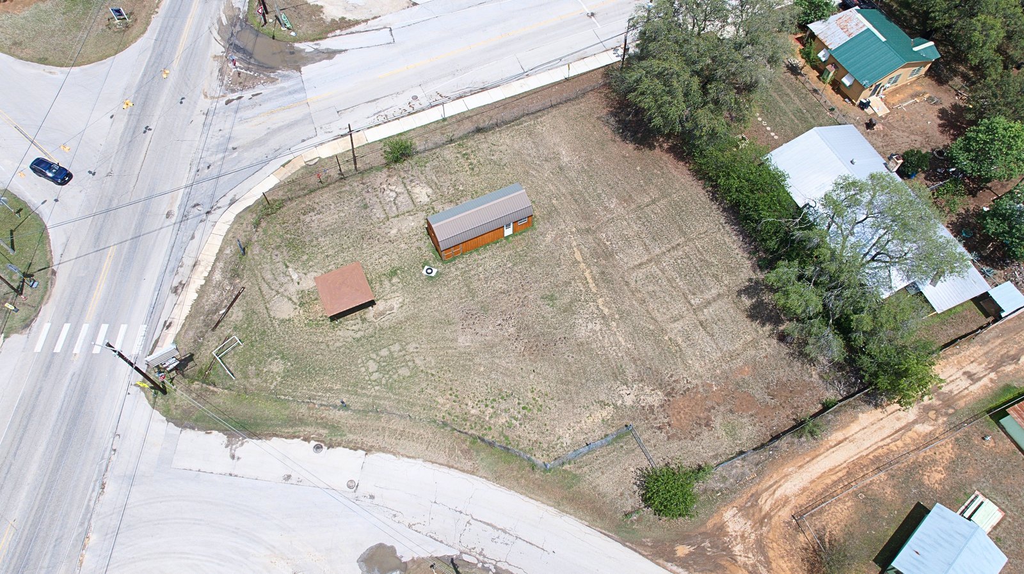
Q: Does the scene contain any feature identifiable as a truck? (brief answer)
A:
No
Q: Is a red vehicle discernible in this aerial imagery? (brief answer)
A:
No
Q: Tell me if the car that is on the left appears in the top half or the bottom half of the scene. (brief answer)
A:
top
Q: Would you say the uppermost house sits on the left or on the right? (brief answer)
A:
right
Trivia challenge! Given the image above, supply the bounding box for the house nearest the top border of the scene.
[804,3,938,101]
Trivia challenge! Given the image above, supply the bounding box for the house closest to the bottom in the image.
[876,503,1008,574]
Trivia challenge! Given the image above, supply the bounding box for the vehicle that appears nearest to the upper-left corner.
[23,159,71,188]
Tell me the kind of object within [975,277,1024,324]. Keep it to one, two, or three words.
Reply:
shed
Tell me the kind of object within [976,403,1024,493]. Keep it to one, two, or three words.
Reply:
shed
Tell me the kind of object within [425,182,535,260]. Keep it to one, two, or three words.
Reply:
building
